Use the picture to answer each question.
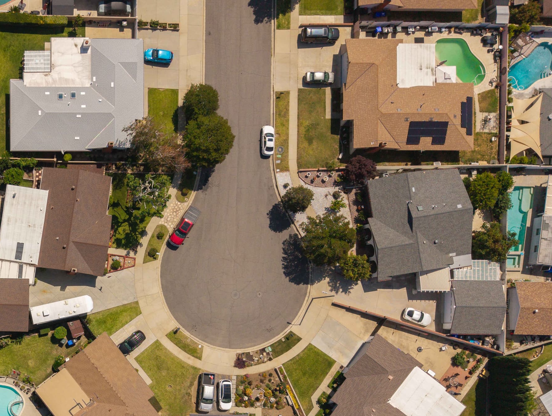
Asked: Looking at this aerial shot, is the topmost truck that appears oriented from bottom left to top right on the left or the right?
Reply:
left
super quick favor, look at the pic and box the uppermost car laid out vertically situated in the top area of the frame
[260,125,275,157]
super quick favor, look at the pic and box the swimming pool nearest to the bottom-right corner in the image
[506,253,524,269]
